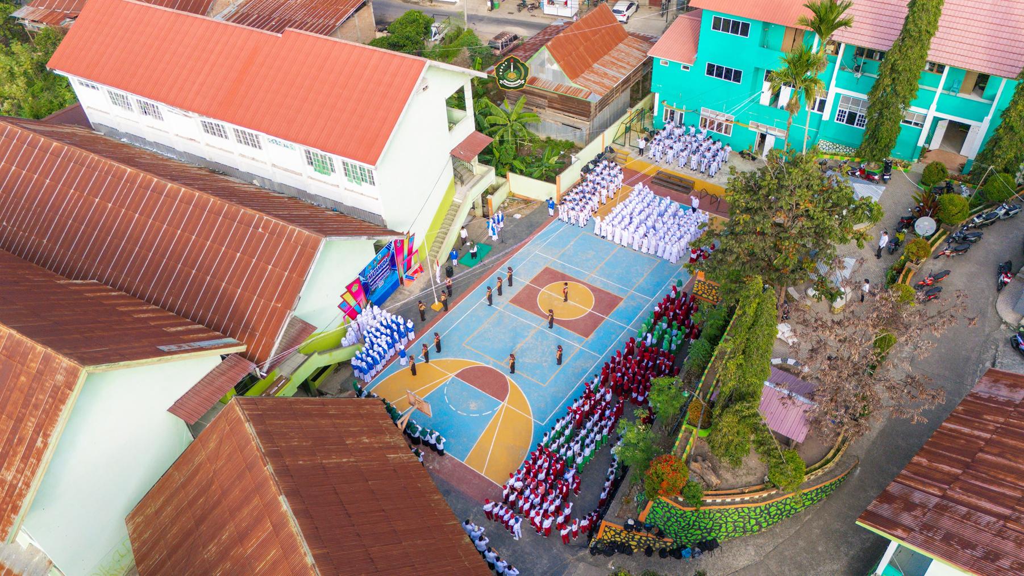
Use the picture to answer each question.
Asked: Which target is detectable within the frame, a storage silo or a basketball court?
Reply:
basketball court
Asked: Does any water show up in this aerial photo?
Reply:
No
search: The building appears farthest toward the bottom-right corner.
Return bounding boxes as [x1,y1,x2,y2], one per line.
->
[855,367,1024,576]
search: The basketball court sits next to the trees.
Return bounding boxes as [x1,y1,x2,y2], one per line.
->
[336,168,726,517]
